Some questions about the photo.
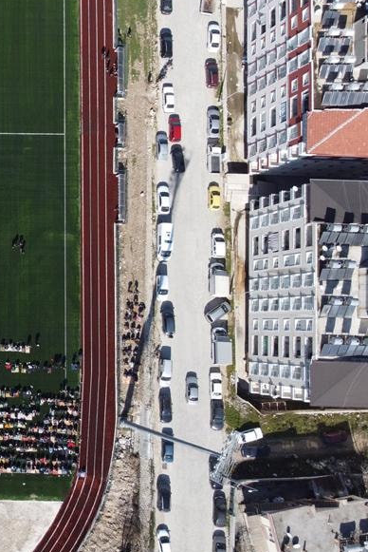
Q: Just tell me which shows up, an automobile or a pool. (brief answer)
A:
automobile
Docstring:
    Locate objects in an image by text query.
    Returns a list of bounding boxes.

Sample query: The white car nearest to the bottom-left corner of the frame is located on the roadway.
[156,525,172,552]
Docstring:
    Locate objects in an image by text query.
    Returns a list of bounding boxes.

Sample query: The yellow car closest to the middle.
[207,184,222,209]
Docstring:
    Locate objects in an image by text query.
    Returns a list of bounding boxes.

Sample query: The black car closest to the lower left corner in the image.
[156,477,172,510]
